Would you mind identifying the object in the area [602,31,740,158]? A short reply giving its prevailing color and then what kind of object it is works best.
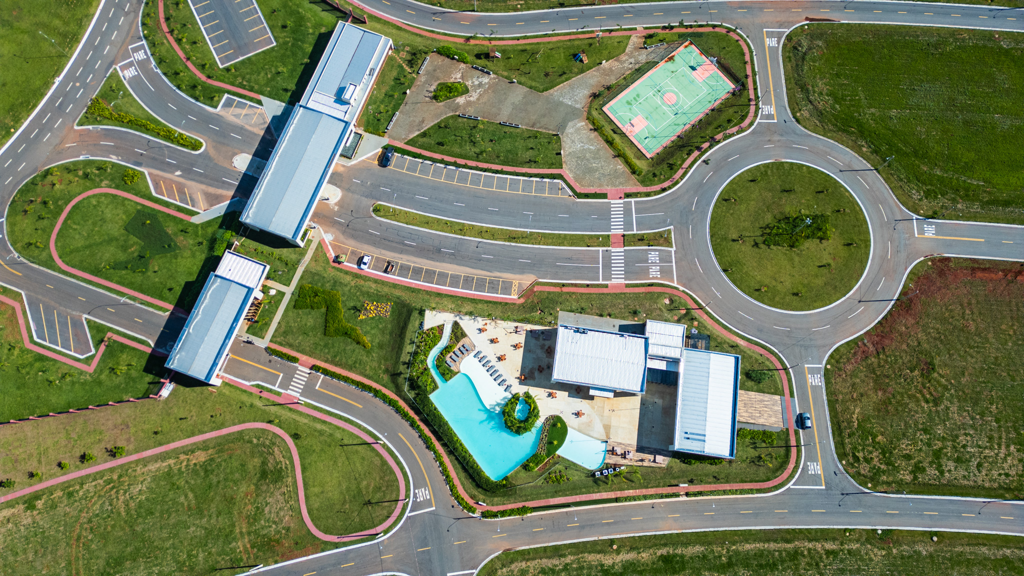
green sports court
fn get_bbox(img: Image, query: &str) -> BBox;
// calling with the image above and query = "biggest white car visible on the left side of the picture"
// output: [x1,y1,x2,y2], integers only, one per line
[360,253,372,269]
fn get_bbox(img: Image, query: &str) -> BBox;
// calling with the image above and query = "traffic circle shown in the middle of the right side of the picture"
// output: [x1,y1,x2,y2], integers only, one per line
[670,121,910,349]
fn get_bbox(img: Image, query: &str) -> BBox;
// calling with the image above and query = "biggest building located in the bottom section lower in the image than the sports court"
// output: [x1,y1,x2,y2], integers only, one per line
[550,320,741,459]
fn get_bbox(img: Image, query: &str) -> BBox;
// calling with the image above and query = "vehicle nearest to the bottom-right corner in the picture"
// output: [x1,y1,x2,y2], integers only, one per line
[799,412,811,430]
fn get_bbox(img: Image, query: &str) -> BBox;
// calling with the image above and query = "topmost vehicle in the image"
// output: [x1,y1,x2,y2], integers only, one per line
[382,147,397,166]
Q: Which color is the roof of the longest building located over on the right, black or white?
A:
white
